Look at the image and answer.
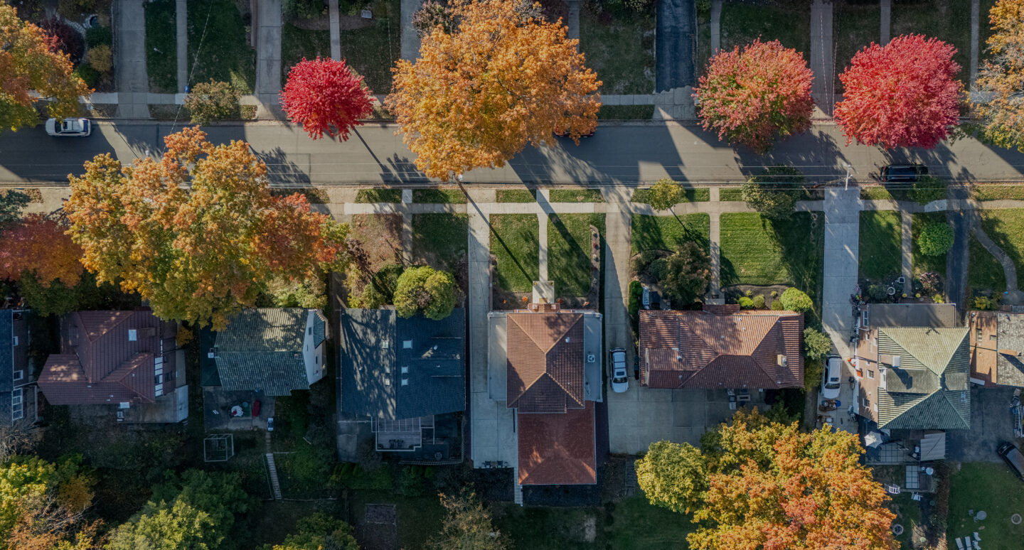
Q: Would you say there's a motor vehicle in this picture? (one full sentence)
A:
Yes, this view includes a motor vehicle.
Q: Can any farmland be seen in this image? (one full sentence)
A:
No, the scene doesn't show any farmland.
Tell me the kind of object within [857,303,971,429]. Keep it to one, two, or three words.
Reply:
house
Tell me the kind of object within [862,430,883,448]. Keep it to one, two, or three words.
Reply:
umbrella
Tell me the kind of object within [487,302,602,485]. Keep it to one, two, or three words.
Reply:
house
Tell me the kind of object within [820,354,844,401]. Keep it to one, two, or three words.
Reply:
car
